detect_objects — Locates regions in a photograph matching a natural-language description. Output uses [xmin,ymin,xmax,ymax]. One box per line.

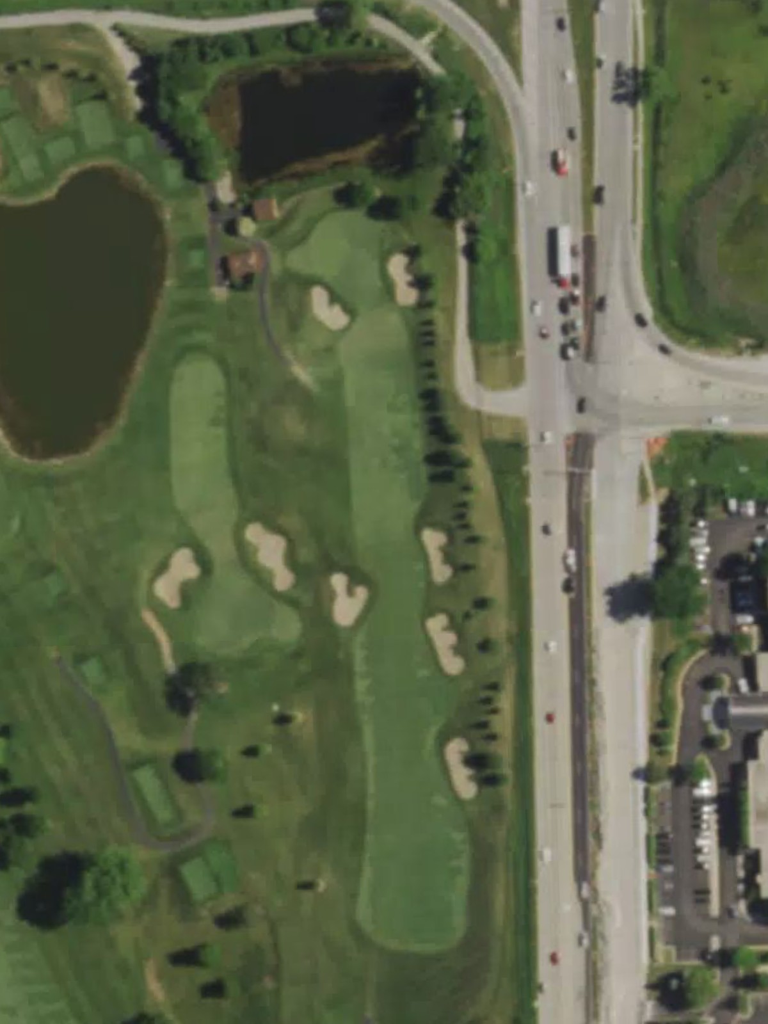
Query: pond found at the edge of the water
[238,66,423,182]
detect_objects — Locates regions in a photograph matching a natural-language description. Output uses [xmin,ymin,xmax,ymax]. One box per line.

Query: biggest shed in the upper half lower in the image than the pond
[228,248,261,273]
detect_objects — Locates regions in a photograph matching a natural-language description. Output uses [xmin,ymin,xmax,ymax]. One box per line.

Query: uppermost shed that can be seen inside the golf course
[253,198,274,219]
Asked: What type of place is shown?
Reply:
golf course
